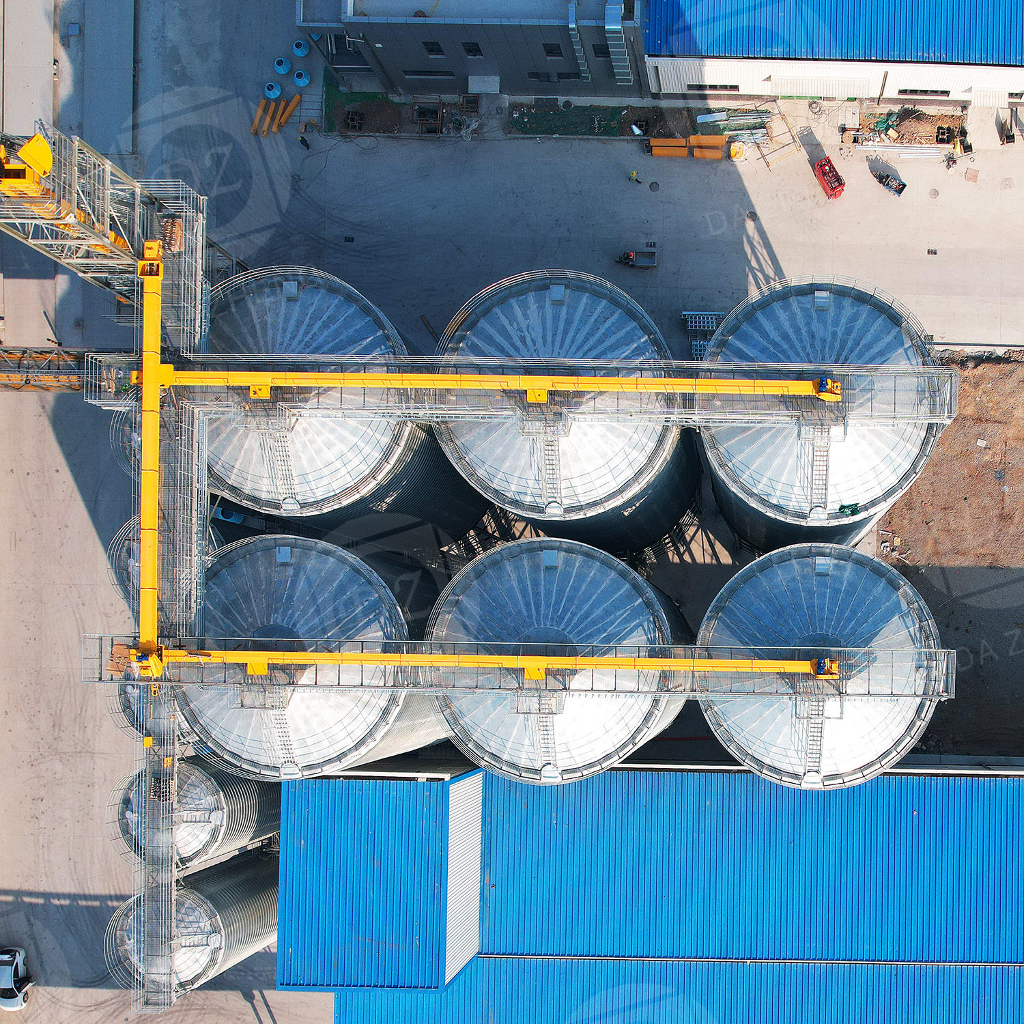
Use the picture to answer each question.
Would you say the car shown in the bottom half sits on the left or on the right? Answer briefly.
left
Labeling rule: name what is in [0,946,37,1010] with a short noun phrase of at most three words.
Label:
car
